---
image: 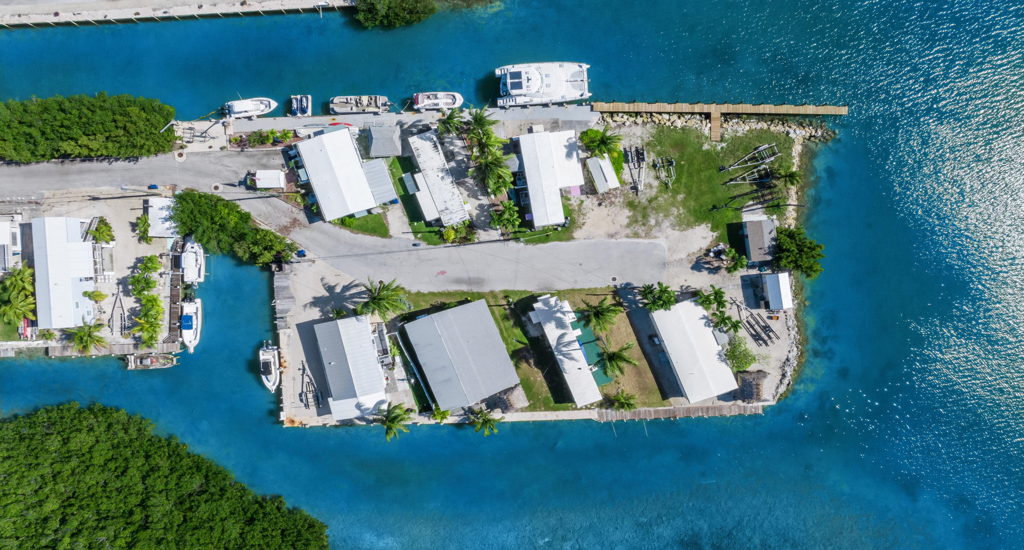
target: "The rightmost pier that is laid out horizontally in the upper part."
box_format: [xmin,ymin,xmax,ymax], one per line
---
[593,101,850,116]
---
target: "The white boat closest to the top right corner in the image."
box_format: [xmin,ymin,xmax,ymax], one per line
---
[496,62,592,106]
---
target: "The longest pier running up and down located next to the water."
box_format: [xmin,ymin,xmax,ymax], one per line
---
[170,240,184,343]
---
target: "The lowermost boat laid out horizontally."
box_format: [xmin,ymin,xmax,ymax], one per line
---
[119,354,180,370]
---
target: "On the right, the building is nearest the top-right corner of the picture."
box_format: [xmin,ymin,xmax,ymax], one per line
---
[739,215,776,261]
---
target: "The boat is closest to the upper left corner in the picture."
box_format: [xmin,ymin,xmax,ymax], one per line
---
[225,93,279,118]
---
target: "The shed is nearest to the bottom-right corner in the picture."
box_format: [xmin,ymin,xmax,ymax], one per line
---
[735,372,772,405]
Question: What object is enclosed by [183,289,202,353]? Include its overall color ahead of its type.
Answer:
white boat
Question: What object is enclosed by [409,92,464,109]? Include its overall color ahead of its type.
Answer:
white boat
